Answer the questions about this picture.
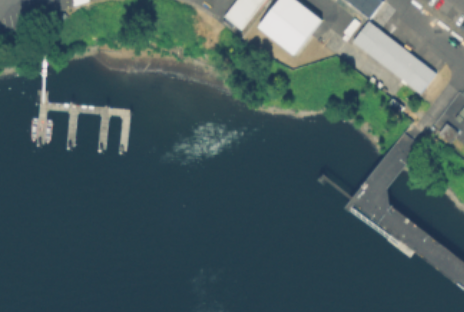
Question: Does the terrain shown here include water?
Yes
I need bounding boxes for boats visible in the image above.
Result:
[31,116,38,142]
[46,118,53,142]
